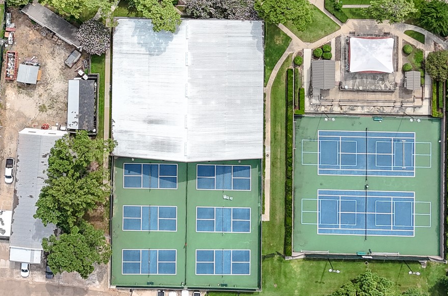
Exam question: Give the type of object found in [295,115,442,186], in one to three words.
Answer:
tennis court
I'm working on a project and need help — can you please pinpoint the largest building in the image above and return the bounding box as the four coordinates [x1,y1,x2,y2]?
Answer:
[111,17,264,161]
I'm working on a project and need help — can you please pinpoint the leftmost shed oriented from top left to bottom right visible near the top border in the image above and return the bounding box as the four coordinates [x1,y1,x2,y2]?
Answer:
[21,3,87,46]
